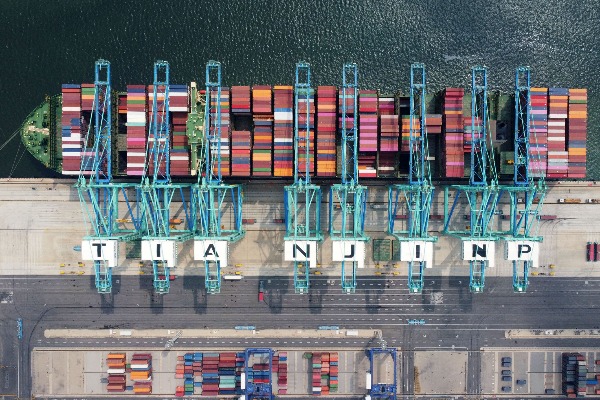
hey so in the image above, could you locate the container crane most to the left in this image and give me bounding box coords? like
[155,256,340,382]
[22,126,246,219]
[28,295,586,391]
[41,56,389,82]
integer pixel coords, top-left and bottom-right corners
[76,59,149,294]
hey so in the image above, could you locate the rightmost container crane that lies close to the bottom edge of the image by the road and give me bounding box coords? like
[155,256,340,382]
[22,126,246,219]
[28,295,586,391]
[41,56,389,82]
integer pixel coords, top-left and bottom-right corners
[360,347,397,400]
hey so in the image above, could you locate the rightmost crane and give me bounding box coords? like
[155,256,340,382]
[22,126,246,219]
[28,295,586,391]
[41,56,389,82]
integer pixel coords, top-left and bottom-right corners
[476,63,551,295]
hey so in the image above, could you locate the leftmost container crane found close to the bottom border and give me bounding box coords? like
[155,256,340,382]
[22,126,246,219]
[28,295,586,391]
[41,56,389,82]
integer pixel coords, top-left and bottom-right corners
[238,347,277,400]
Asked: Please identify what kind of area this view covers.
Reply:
port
